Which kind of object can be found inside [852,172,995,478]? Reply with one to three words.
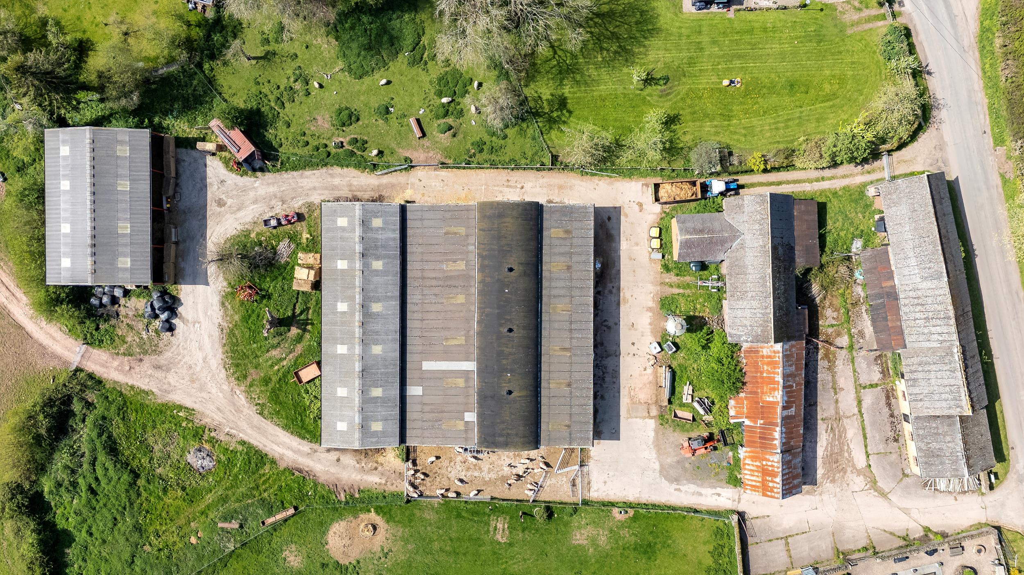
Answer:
building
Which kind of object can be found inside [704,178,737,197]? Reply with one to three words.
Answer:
work vehicle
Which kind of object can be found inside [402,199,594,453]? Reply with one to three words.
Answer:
barn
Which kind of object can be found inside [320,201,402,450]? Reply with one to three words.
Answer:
shed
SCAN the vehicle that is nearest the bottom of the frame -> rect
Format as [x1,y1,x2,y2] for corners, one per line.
[675,432,728,460]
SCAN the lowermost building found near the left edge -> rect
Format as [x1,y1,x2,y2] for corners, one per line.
[43,125,168,287]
